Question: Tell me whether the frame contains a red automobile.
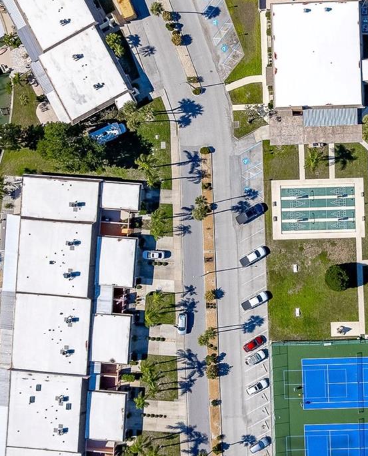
Yes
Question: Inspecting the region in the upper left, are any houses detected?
Yes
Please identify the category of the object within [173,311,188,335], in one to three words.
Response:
car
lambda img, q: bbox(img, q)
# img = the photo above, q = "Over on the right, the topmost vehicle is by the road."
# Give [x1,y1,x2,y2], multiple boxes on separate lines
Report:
[237,203,266,223]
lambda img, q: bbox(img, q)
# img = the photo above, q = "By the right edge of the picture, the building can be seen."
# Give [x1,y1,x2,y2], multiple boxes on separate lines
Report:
[271,1,368,126]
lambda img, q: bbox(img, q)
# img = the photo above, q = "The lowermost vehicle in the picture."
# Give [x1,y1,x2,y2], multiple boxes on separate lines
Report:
[248,435,272,454]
